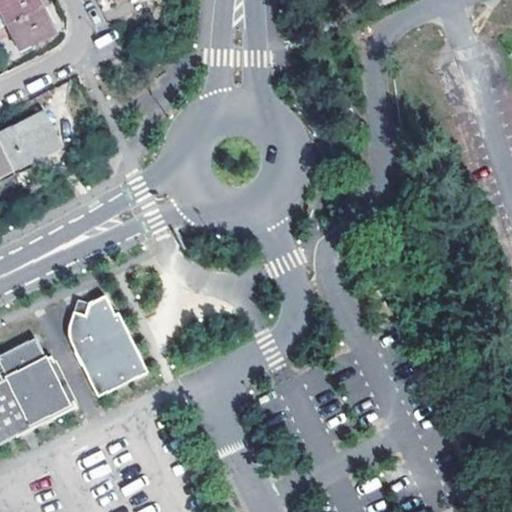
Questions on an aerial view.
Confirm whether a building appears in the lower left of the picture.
Yes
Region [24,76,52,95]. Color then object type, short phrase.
white vehicle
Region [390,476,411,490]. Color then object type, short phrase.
white car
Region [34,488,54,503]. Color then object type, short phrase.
white car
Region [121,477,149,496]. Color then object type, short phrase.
white vehicle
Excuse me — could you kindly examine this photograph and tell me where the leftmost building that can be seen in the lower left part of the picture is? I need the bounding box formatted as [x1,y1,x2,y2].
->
[0,338,76,444]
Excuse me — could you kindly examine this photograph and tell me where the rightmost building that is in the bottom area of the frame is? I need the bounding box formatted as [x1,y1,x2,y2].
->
[68,295,146,396]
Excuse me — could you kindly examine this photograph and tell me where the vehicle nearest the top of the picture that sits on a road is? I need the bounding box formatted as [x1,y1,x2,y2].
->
[85,2,101,24]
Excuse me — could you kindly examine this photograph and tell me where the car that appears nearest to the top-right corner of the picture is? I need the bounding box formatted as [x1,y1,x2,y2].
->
[472,166,492,179]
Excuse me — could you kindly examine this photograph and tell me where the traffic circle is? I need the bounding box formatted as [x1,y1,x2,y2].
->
[161,84,315,238]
